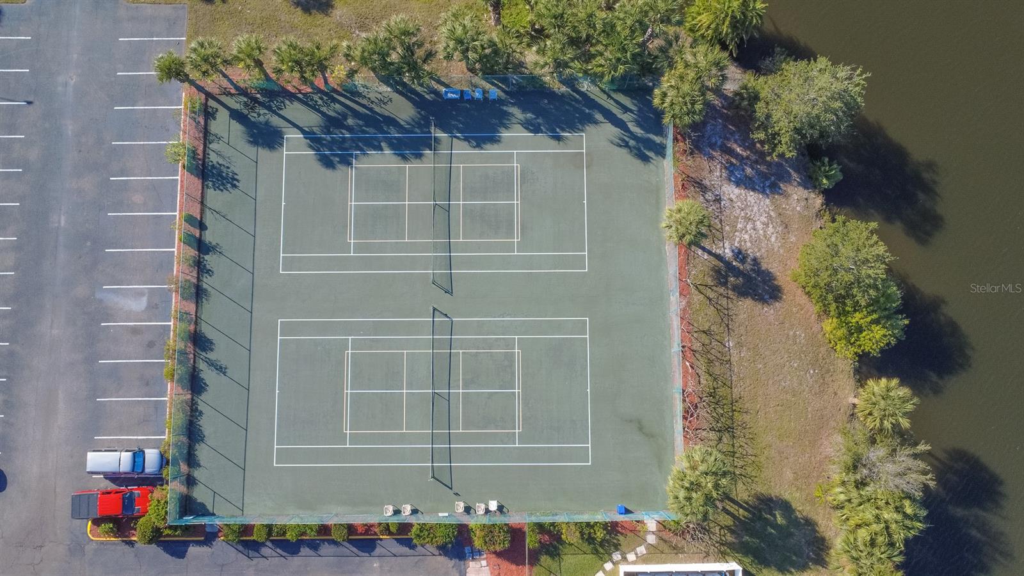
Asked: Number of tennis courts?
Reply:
2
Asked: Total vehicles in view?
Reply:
two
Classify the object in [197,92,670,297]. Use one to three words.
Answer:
tennis court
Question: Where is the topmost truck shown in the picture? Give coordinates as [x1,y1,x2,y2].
[89,445,168,475]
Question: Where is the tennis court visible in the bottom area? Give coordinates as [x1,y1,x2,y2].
[188,294,677,515]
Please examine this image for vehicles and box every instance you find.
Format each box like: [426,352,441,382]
[74,489,162,523]
[89,445,168,475]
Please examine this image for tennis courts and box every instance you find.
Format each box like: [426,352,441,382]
[188,294,677,515]
[197,92,670,297]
